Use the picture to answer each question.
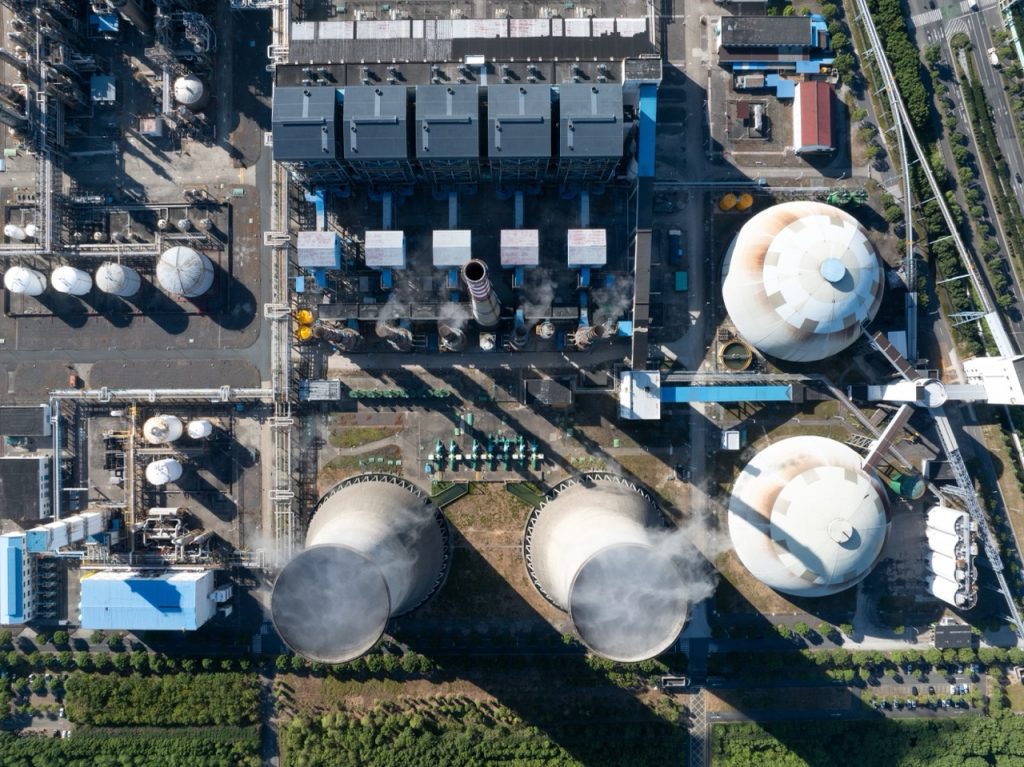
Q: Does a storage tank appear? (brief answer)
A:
Yes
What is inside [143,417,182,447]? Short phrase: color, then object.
white storage tank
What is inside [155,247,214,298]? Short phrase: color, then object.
white storage tank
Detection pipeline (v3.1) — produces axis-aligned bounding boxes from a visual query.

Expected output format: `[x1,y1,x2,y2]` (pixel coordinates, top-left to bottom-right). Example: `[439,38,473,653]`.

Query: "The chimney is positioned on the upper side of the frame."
[457,260,501,328]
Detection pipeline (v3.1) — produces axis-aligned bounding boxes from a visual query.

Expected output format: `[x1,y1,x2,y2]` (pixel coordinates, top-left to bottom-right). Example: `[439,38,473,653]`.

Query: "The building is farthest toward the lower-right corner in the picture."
[930,624,972,648]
